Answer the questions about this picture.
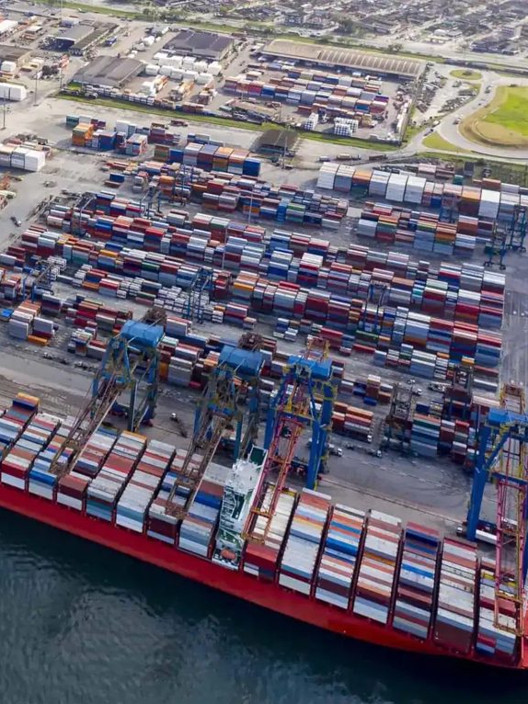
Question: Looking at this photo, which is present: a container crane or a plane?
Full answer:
The one in the frame is a container crane.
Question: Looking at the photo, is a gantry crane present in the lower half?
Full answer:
Yes, there is a gantry crane in the lower half.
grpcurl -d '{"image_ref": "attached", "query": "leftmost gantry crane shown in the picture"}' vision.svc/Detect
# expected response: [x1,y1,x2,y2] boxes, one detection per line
[22,248,55,294]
